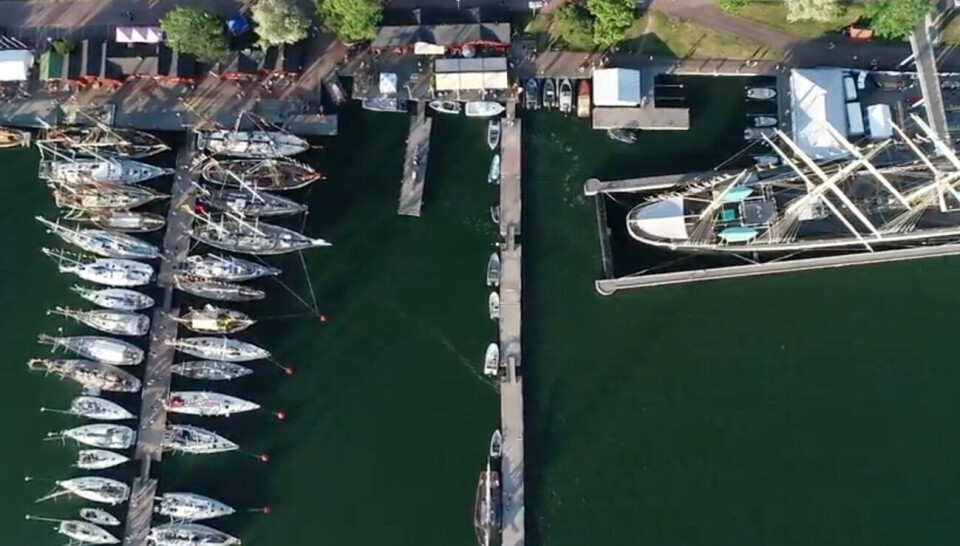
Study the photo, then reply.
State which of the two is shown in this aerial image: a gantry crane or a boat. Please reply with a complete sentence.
Visible in the photo is a boat.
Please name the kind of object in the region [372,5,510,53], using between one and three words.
building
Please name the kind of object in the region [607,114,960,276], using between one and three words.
ship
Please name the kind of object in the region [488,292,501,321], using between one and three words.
boat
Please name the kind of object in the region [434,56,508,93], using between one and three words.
tent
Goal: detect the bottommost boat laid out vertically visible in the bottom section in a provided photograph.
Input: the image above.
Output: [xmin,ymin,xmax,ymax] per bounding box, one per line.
[475,456,503,546]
